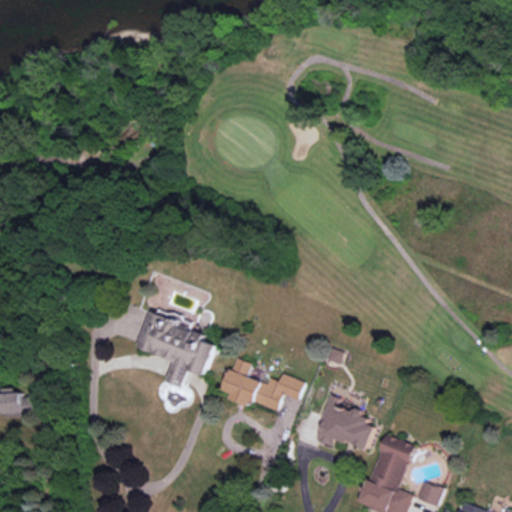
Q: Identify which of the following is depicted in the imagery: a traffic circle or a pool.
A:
pool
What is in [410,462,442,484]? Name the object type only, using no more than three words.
swimming pool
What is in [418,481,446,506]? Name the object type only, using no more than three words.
building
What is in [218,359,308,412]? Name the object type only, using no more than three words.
house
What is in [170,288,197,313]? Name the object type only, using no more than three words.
swimming pool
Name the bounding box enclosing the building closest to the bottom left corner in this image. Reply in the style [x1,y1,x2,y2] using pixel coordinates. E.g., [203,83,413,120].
[0,388,35,416]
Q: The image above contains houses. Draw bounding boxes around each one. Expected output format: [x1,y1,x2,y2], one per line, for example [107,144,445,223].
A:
[137,308,220,389]
[0,388,35,416]
[454,503,489,512]
[318,395,379,454]
[218,359,308,412]
[358,433,418,512]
